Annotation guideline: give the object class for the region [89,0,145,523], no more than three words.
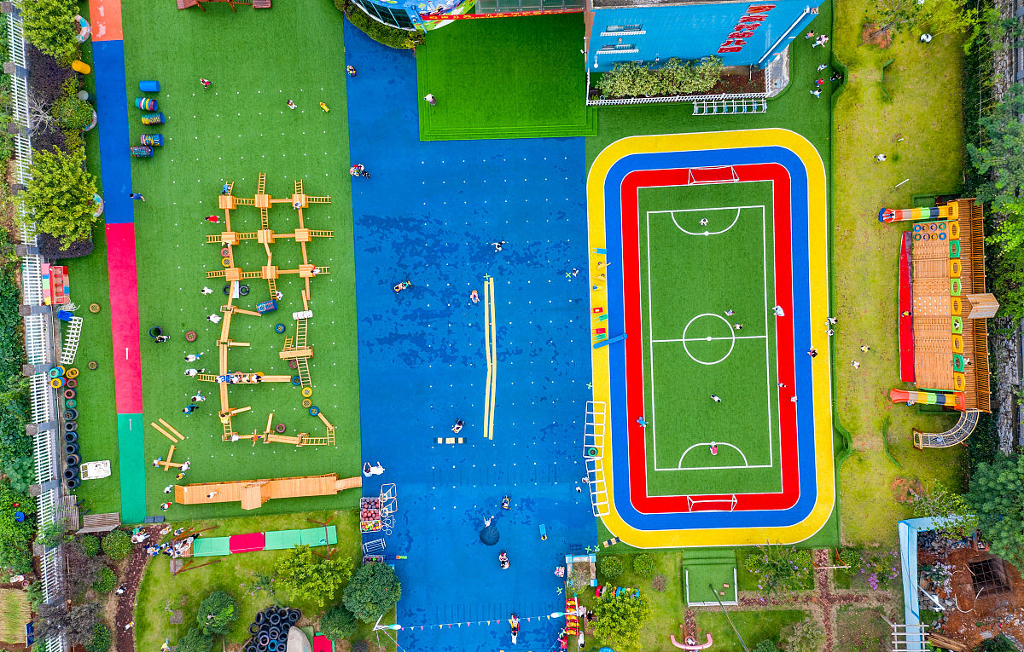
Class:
running track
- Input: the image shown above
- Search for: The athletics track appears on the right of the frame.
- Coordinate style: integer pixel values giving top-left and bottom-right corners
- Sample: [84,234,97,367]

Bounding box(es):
[586,127,835,550]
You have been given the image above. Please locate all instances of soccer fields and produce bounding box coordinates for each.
[639,181,782,496]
